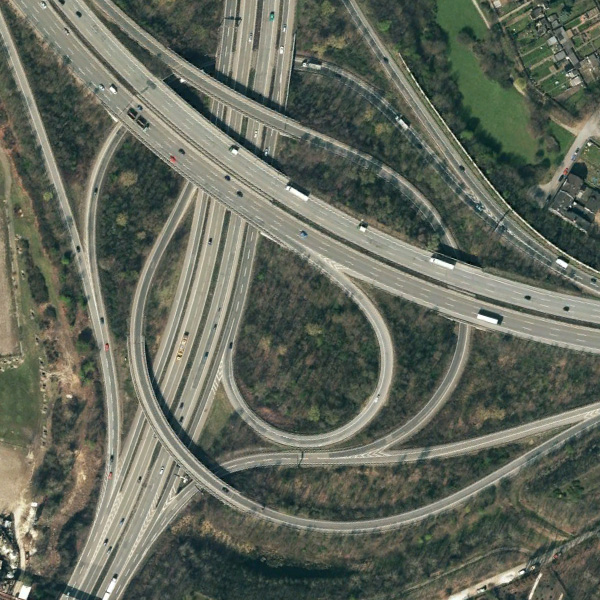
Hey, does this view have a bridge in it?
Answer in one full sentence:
Yes, there's a bridge here.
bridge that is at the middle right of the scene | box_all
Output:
[420,253,493,323]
